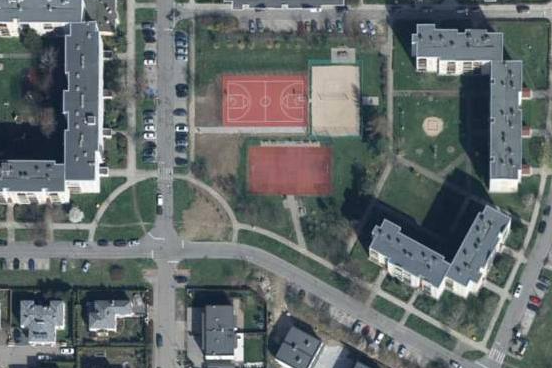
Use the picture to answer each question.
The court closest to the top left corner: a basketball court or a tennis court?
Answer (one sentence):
What you see as the court closest to the top left corner is a basketball court.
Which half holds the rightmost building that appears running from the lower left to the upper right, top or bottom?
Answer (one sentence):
Seen from above, the rightmost building that appears running from the lower left to the upper right lies in the bottom half of the view.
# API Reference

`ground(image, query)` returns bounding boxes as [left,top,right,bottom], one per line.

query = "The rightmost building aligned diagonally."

[448,206,511,296]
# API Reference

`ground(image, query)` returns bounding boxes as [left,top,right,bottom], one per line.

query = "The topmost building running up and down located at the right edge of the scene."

[489,61,528,191]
